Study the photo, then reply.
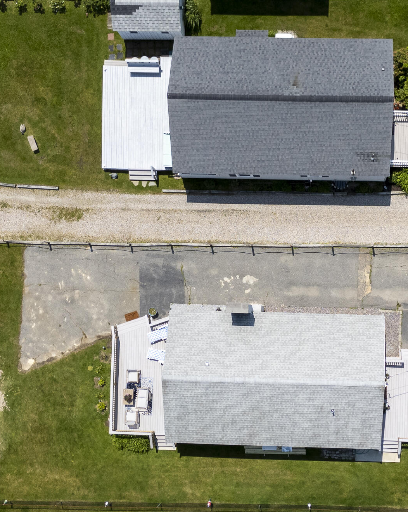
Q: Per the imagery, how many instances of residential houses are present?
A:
two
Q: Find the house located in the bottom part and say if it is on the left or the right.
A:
right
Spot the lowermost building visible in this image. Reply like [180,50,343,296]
[165,304,384,451]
